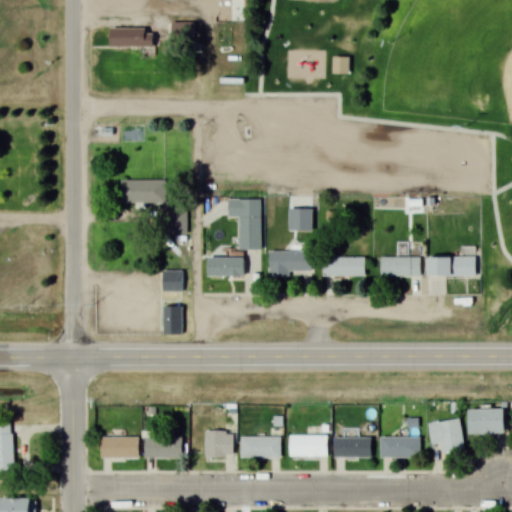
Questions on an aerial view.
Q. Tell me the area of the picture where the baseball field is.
top right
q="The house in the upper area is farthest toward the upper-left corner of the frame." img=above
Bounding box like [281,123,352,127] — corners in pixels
[109,28,153,46]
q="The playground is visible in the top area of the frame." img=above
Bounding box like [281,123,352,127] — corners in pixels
[287,50,327,84]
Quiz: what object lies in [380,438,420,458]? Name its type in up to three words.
house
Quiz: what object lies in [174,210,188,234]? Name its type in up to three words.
building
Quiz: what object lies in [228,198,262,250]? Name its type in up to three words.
house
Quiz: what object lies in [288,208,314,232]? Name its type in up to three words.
building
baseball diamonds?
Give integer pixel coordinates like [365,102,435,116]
[384,0,512,124]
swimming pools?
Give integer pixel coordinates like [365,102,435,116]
[366,408,378,420]
[410,428,421,438]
